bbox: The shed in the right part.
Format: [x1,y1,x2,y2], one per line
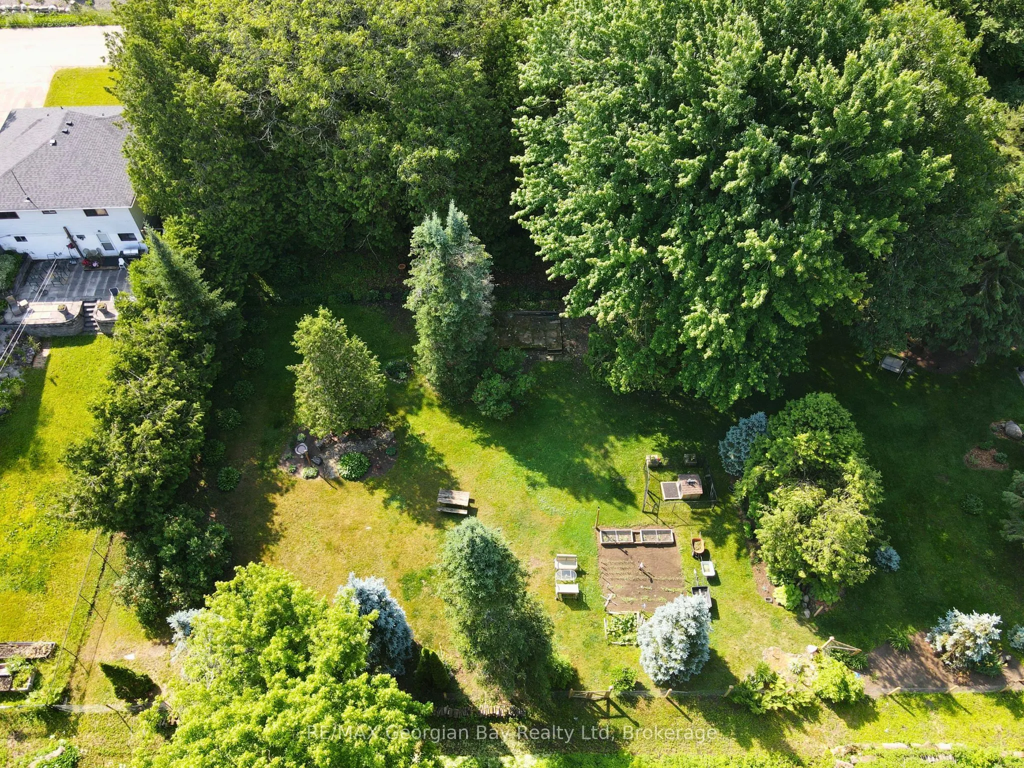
[679,468,705,496]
